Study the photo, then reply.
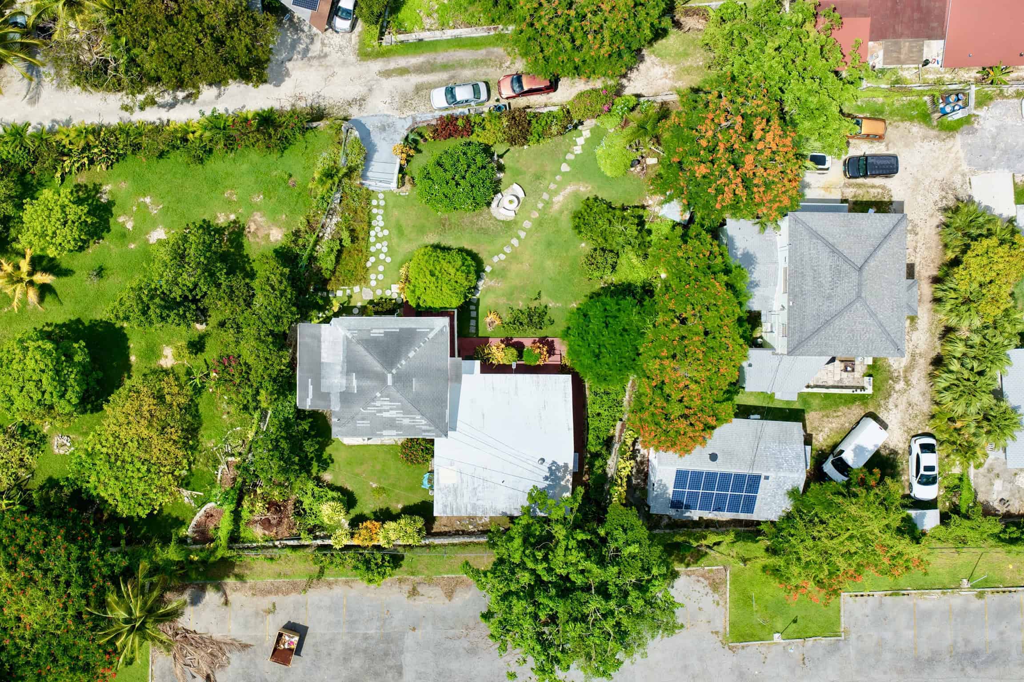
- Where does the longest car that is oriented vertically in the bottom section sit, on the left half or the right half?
right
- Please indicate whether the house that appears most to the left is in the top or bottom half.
top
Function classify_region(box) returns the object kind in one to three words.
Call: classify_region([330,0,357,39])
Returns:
car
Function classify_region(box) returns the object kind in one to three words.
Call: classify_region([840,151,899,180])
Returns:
car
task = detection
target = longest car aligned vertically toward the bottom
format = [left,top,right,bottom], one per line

[907,435,939,499]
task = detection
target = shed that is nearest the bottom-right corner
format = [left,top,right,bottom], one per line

[902,507,940,532]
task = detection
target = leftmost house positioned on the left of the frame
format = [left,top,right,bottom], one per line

[283,0,334,37]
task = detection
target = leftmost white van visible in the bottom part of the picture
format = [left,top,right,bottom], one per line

[825,419,887,480]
